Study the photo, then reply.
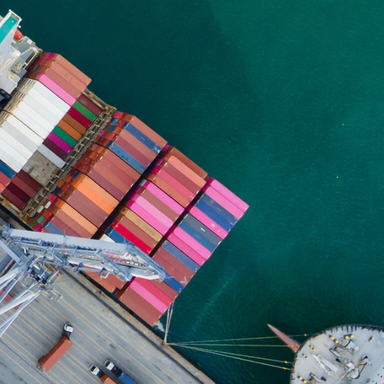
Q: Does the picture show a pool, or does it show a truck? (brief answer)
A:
truck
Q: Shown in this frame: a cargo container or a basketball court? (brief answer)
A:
cargo container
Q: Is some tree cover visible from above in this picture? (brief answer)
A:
No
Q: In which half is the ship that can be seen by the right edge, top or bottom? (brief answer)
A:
bottom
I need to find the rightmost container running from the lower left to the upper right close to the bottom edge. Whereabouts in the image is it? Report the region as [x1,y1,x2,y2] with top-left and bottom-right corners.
[37,337,66,377]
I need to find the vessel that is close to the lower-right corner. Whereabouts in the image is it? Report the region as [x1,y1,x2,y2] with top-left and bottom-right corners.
[271,326,384,384]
